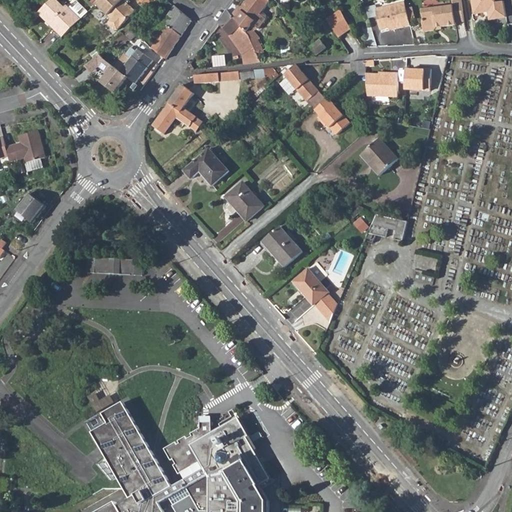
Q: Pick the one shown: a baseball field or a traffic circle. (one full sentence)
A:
Visible in the photo is a traffic circle.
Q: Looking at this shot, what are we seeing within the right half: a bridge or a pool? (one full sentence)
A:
Looking within the right half, you will find a pool.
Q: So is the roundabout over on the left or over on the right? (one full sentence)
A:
The roundabout is on the left side of the image.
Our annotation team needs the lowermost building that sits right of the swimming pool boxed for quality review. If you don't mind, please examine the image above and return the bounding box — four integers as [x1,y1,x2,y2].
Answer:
[414,254,438,270]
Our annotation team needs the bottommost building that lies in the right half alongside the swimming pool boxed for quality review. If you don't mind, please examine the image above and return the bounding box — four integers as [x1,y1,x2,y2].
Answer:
[316,294,338,321]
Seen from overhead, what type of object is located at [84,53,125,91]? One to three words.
house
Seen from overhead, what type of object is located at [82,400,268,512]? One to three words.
building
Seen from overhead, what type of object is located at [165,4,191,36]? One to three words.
house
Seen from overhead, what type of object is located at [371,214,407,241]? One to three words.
building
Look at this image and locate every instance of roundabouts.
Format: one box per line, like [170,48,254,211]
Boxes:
[76,120,144,188]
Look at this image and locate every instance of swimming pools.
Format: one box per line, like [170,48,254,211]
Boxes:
[327,250,357,288]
